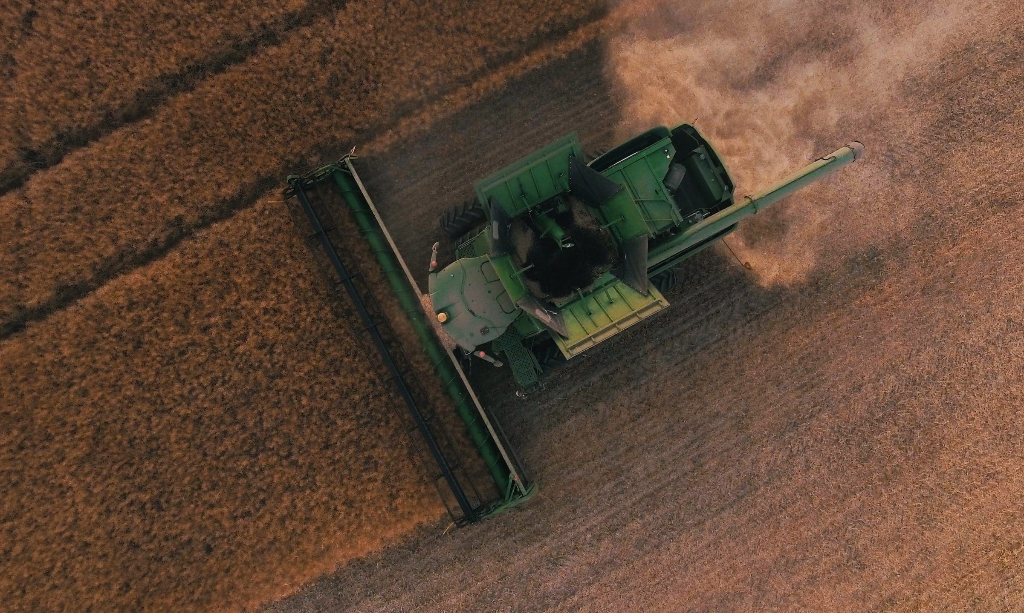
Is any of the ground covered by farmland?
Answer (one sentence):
Yes, some farmland is visible.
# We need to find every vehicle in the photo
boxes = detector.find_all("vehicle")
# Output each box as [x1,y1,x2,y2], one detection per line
[270,118,860,535]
